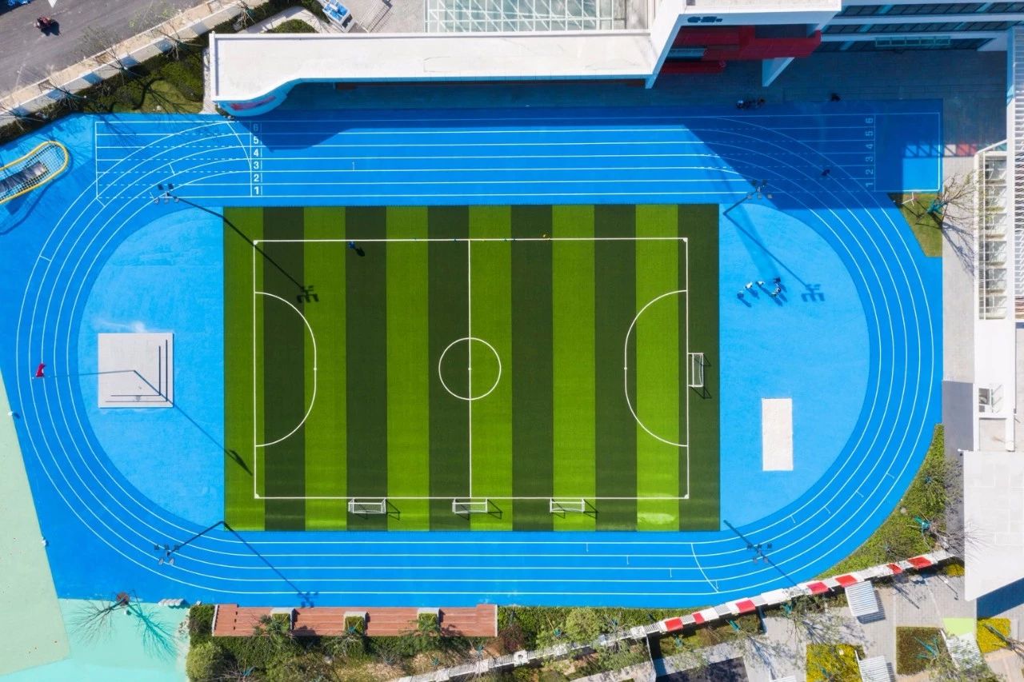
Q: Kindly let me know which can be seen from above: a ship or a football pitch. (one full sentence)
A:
Of the two, only a football pitch appears.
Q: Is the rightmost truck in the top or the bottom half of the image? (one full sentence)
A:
You can find the rightmost truck in the top half.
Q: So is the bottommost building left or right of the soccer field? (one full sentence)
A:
You can see the bottommost building positioned to the right of the soccer field.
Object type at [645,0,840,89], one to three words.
building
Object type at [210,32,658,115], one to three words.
building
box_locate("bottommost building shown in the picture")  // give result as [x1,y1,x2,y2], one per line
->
[960,449,1024,601]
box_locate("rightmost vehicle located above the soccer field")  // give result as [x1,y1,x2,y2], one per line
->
[311,0,357,32]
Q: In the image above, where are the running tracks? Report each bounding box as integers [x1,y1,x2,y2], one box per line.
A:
[0,100,943,609]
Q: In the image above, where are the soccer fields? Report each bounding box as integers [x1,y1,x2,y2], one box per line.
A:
[223,203,721,532]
